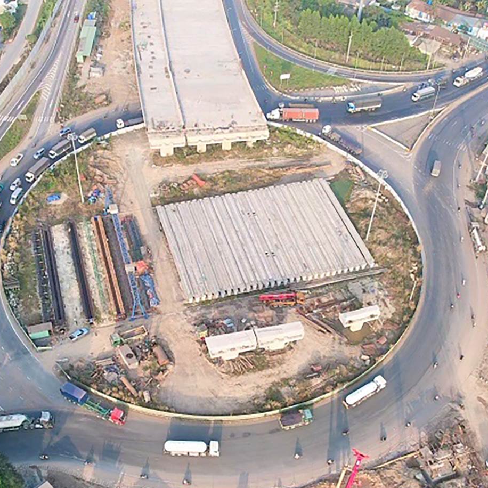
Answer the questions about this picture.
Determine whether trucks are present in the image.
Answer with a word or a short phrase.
Yes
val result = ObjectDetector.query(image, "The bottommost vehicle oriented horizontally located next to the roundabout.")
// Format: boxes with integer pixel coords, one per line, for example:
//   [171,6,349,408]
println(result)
[165,439,219,456]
